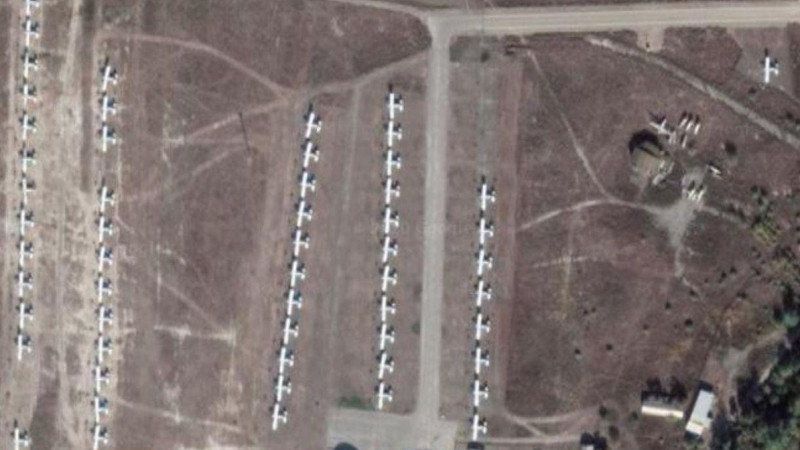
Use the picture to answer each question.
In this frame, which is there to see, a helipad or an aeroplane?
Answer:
aeroplane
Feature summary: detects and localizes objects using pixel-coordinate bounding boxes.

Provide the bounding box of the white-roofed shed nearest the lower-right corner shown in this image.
[686,390,715,438]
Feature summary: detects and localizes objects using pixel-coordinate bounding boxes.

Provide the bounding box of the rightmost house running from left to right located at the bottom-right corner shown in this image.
[641,400,684,417]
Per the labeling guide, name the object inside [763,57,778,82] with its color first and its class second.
white airplane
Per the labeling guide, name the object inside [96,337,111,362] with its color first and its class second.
white airplane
